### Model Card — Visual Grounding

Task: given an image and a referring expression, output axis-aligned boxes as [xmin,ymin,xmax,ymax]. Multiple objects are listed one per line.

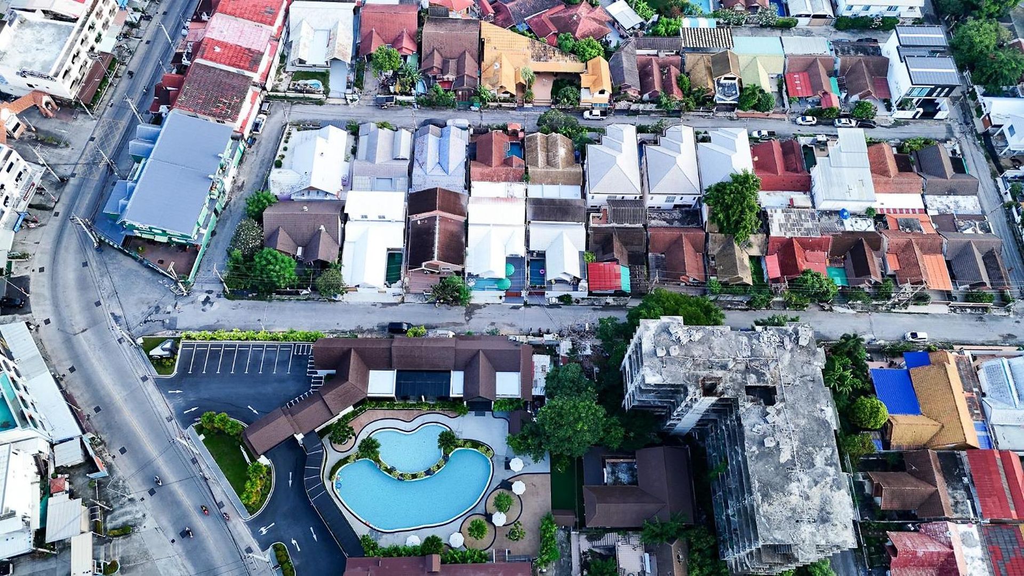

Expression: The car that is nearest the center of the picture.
[386,321,413,334]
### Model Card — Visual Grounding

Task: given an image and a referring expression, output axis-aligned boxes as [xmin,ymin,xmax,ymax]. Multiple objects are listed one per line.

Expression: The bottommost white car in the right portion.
[906,330,930,342]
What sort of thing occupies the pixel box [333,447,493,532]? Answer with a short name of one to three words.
swimming pool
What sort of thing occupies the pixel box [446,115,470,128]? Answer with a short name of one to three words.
vehicle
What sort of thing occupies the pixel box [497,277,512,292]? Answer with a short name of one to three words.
umbrella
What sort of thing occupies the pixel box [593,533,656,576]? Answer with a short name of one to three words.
house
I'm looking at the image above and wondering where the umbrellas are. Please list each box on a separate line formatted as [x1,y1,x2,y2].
[508,457,525,473]
[449,532,465,549]
[497,277,512,292]
[404,532,421,550]
[506,263,517,277]
[491,511,507,528]
[511,479,527,496]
